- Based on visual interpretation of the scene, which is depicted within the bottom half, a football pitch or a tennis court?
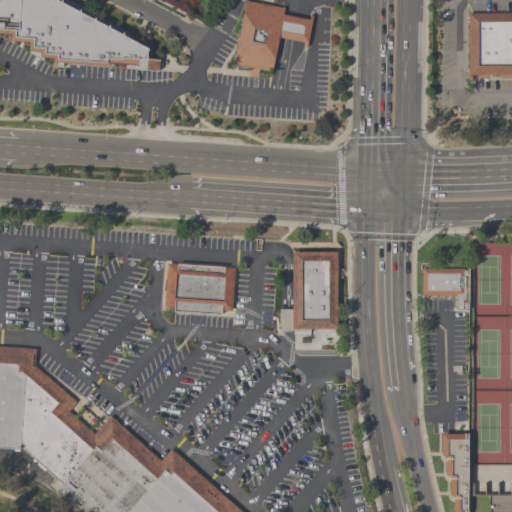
tennis court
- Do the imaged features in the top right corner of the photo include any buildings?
Yes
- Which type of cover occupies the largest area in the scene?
paved ground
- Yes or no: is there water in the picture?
No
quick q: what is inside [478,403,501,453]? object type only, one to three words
tennis court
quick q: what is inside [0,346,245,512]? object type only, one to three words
building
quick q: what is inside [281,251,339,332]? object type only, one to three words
building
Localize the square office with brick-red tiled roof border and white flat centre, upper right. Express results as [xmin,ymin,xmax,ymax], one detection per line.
[470,12,512,80]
